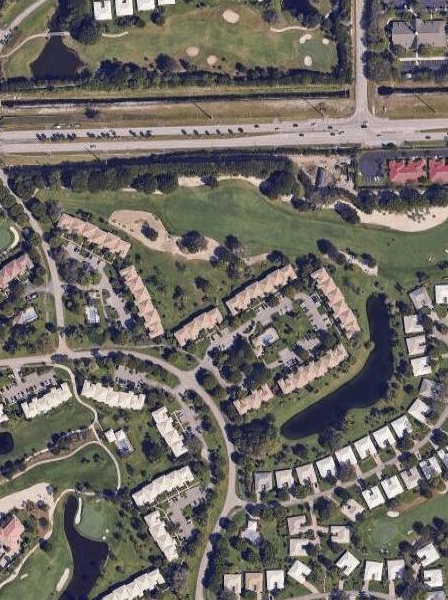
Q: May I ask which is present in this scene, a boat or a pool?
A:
pool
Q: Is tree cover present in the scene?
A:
Yes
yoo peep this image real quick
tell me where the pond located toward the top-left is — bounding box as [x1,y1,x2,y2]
[31,29,86,80]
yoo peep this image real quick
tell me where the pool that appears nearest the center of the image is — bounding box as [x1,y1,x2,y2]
[258,326,282,348]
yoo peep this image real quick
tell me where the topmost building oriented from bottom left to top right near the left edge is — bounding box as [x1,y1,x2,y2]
[0,255,35,292]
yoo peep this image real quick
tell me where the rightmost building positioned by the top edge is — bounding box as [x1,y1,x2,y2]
[416,17,447,47]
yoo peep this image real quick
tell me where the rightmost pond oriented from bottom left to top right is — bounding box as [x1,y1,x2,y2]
[281,293,392,439]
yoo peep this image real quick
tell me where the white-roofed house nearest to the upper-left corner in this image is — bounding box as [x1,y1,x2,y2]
[93,0,113,20]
